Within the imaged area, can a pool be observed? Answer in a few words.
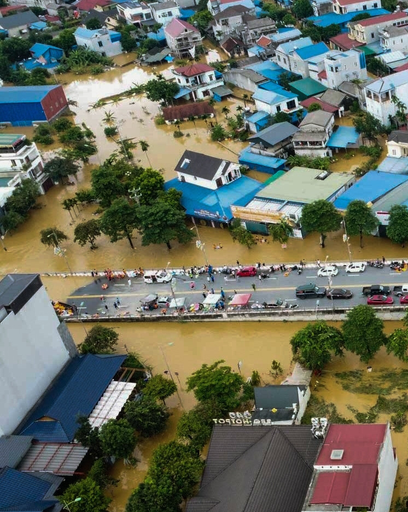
No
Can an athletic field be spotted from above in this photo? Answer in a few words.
No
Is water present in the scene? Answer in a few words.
Yes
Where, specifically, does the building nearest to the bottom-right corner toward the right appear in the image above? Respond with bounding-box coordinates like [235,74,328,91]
[300,420,394,512]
